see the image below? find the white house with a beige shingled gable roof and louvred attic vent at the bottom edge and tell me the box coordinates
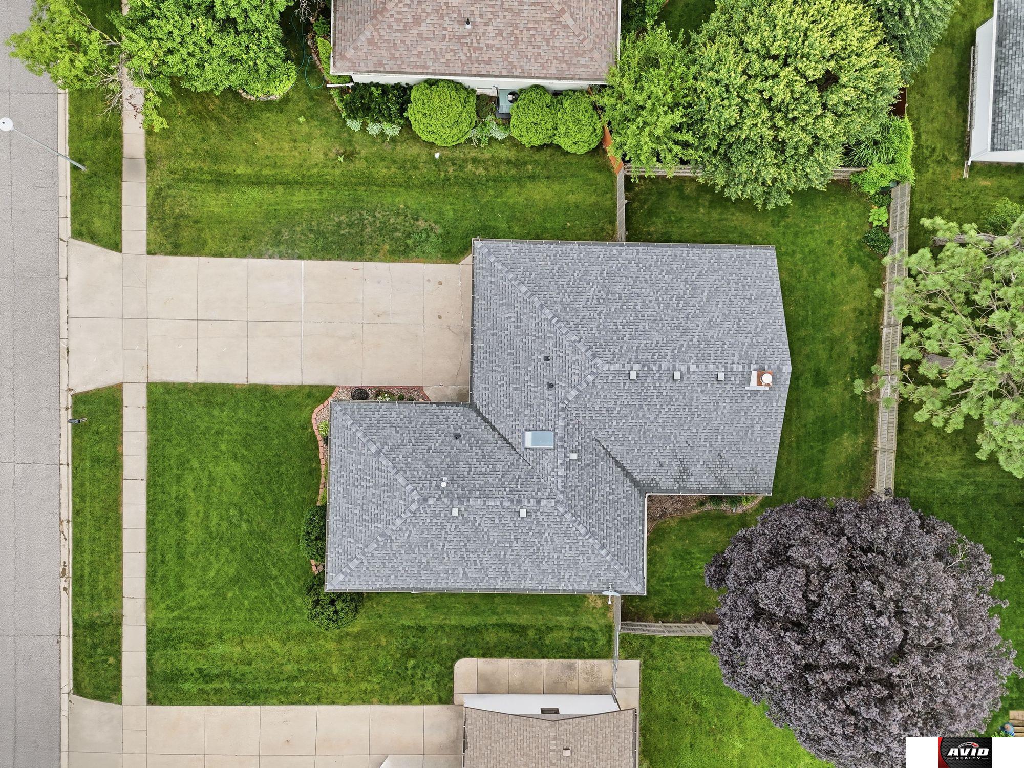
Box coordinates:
[461,694,637,768]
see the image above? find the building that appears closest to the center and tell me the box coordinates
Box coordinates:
[323,235,792,597]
